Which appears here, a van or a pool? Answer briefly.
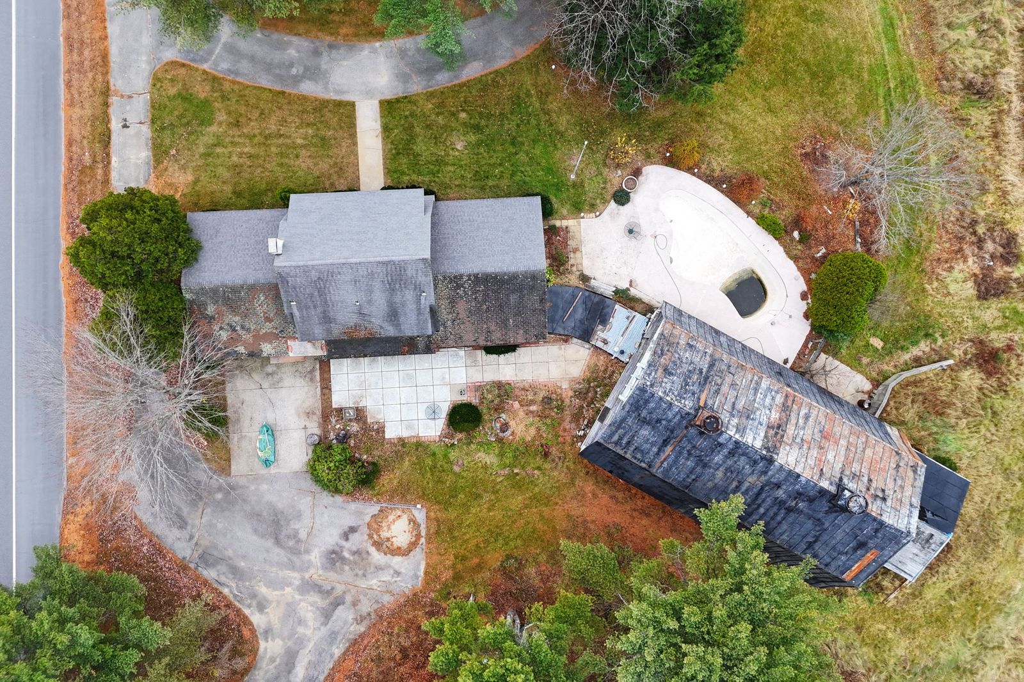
pool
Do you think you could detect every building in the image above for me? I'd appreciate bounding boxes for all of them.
[181,188,548,364]
[579,302,971,585]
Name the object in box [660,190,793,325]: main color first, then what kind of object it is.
white swimming pool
